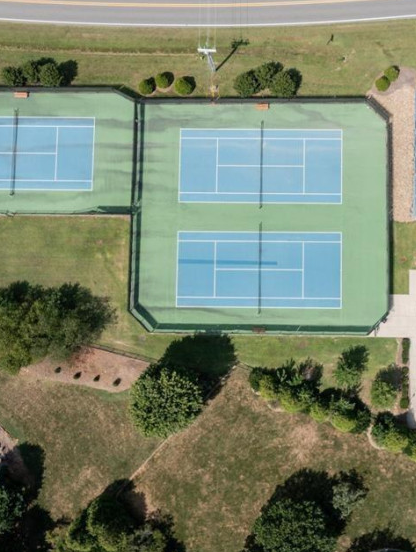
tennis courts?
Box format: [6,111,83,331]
[135,217,389,334]
[0,92,134,214]
[136,103,389,217]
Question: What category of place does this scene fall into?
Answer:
sports ground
